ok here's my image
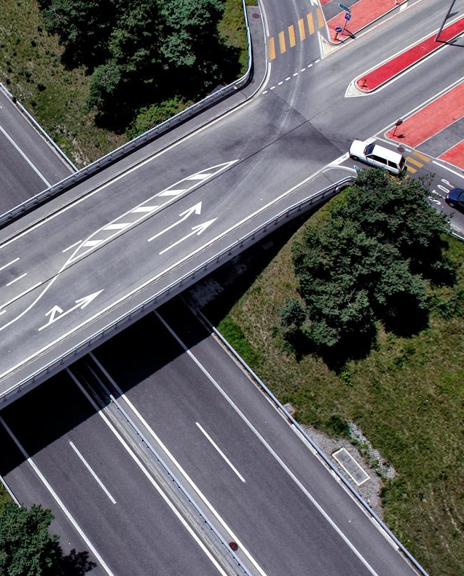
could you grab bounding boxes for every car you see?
[442,189,464,215]
[348,140,406,178]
